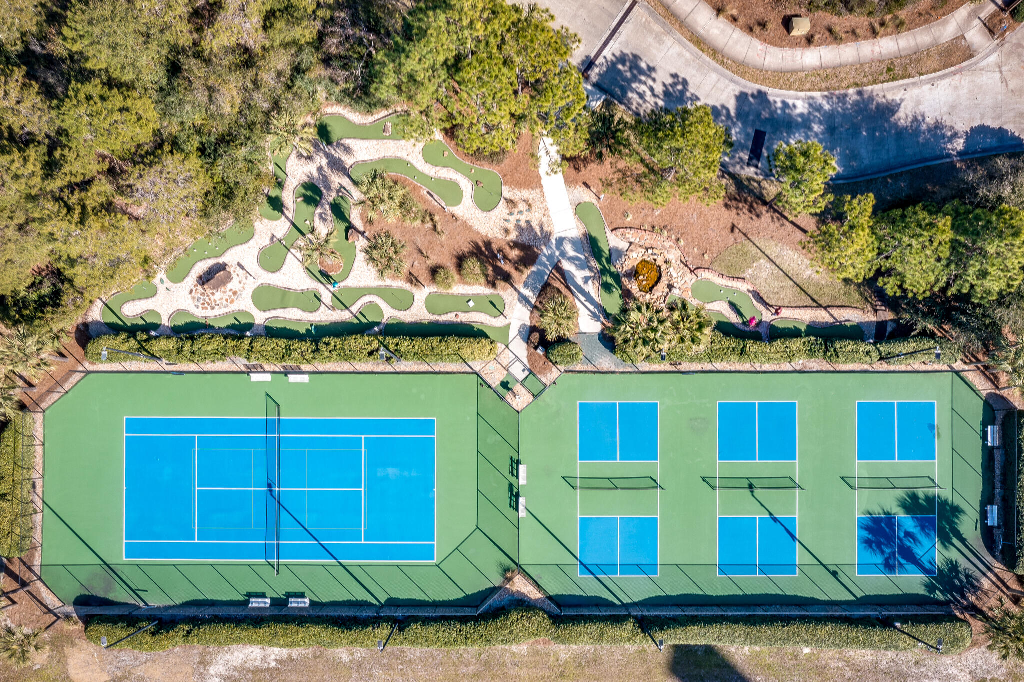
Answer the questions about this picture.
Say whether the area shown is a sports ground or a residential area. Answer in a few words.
sports ground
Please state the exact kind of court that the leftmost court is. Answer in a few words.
tennis court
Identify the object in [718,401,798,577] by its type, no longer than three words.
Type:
sports court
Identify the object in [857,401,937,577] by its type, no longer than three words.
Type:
sports court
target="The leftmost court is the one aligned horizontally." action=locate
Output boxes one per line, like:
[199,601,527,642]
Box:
[41,373,518,606]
